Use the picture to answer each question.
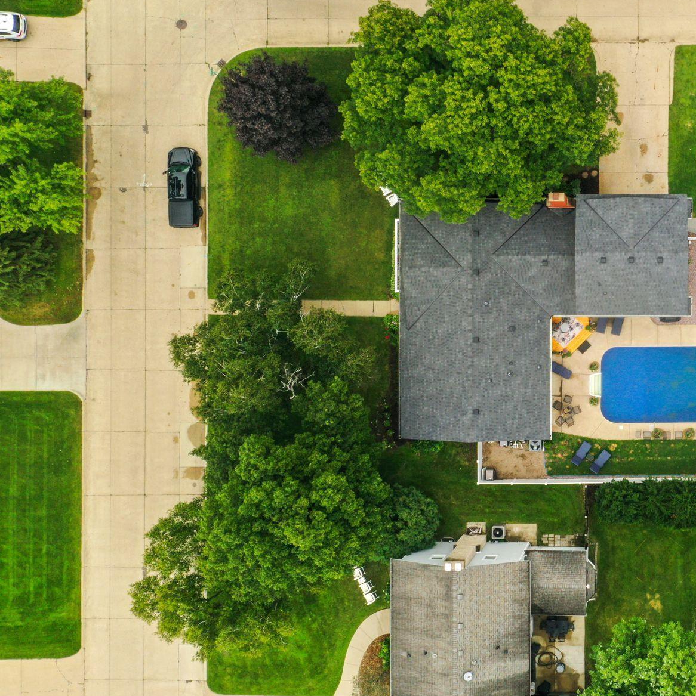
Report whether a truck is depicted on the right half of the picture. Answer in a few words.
No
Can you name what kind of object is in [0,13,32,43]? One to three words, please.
car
